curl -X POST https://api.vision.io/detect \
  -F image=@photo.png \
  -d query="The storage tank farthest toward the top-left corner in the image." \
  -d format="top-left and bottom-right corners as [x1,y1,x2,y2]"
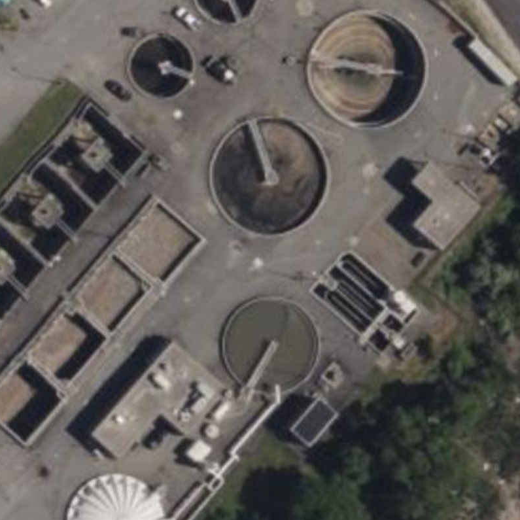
[129,34,194,99]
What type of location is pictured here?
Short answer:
industrial area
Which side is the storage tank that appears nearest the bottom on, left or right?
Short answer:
left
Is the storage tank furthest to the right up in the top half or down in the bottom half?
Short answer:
top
